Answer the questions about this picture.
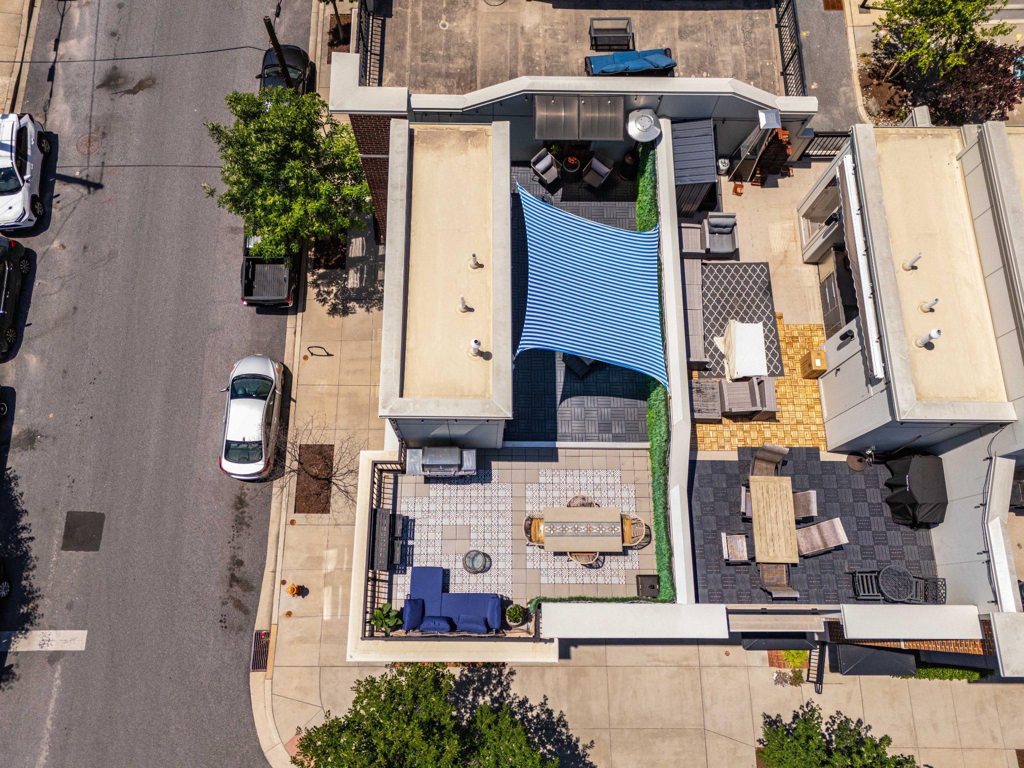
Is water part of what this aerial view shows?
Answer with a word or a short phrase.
No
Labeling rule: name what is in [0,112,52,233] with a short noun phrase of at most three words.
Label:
car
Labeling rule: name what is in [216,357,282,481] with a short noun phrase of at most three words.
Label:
car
